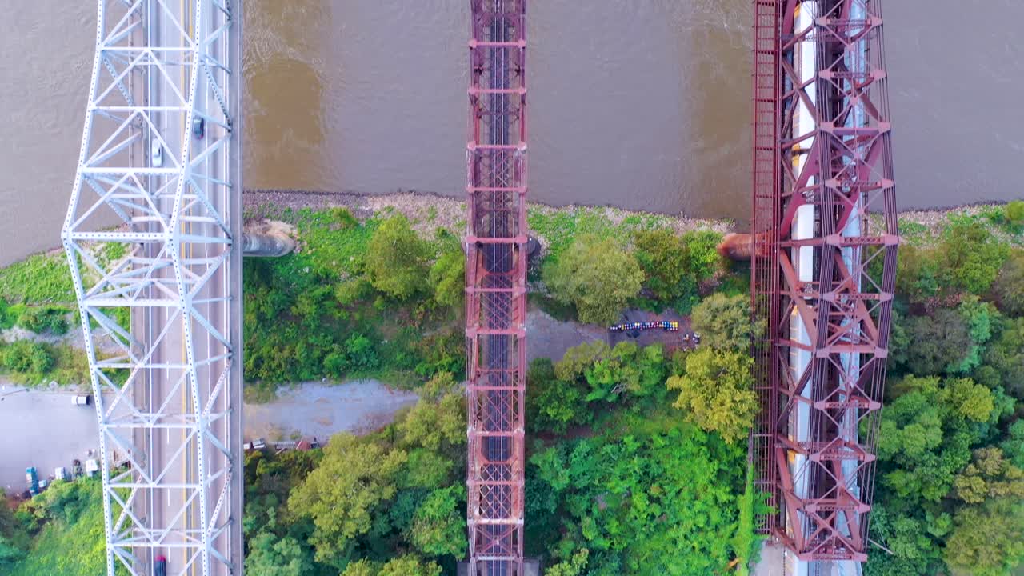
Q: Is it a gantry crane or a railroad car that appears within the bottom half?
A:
railroad car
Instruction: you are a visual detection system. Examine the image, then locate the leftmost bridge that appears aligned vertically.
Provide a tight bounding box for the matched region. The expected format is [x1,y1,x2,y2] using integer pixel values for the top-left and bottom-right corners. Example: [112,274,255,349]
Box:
[58,0,291,576]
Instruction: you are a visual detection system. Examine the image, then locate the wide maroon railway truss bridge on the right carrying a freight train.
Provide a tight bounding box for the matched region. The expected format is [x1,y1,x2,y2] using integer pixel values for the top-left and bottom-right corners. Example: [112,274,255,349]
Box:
[716,0,899,576]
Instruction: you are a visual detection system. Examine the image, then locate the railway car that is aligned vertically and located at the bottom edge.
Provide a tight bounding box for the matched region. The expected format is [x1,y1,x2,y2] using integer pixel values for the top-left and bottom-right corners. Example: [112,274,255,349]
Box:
[784,448,810,576]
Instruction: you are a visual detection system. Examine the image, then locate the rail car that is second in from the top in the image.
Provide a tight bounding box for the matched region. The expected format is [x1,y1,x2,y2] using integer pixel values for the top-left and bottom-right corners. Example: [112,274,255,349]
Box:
[790,152,816,302]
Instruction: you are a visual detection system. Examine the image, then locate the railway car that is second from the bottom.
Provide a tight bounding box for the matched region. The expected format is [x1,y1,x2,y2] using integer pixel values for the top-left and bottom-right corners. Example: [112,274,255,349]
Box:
[787,303,814,450]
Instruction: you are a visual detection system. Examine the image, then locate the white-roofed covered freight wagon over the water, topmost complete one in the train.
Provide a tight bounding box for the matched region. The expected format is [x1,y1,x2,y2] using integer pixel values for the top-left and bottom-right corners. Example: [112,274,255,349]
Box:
[793,0,820,153]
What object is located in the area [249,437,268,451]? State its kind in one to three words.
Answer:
vehicle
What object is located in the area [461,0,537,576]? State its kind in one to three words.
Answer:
bridge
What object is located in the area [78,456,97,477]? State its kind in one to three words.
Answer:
vehicle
